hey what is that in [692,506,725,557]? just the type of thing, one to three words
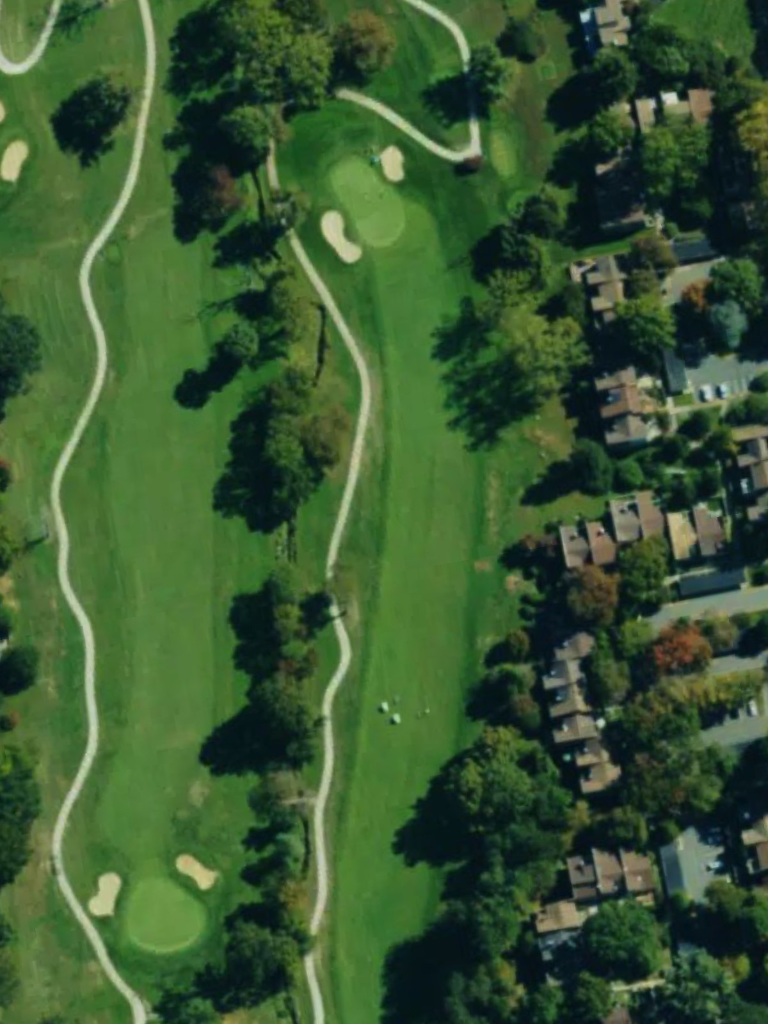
house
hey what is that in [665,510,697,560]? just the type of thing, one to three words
house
